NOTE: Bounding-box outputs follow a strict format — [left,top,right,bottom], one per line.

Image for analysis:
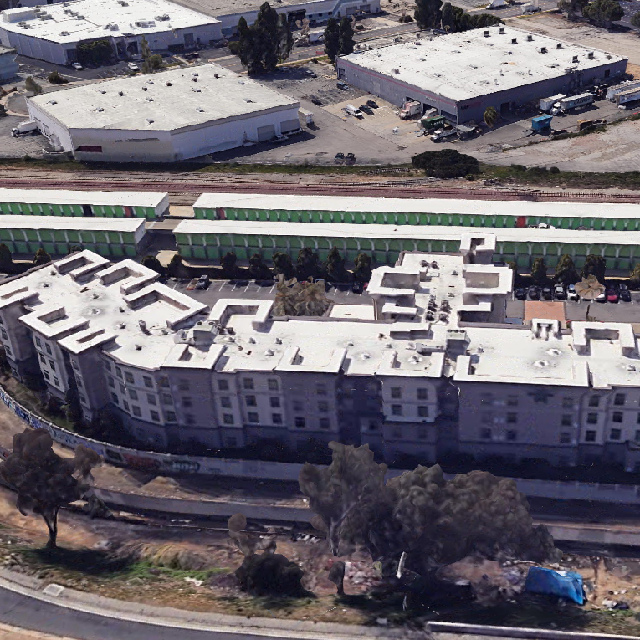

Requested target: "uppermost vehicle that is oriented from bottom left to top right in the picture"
[303,27,324,44]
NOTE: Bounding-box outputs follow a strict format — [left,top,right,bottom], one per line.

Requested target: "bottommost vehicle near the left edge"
[10,115,38,136]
